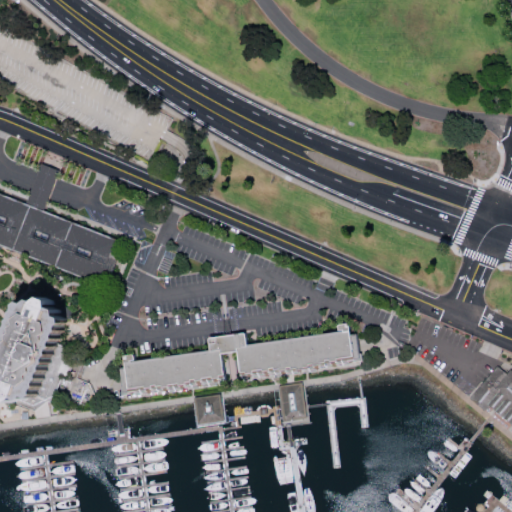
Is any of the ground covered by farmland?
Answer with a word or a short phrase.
No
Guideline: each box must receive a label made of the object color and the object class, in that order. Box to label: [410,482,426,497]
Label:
white boat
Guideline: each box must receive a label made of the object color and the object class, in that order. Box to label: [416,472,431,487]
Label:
white boat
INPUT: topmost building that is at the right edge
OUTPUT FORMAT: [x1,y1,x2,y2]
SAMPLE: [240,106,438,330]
[470,366,512,436]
